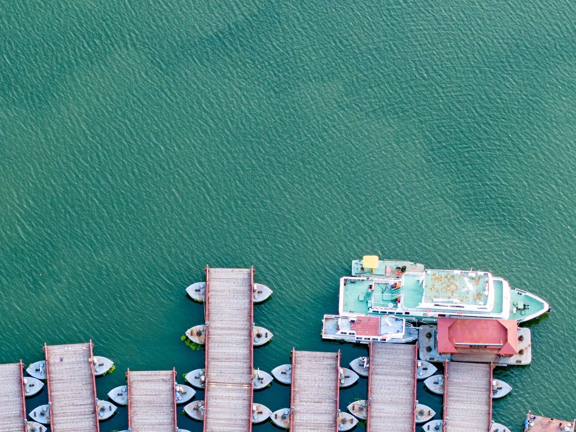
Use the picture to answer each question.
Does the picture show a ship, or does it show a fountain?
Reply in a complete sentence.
Looking from above, you can make out a ship.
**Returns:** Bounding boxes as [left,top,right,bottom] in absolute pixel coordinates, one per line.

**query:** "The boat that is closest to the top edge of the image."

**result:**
[351,256,424,279]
